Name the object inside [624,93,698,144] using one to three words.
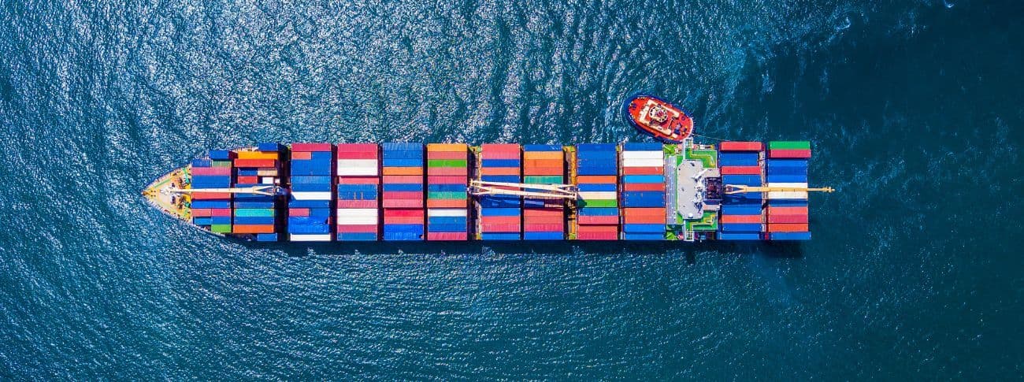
boat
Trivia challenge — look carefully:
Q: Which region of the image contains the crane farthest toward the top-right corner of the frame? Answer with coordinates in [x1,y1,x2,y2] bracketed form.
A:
[722,182,833,195]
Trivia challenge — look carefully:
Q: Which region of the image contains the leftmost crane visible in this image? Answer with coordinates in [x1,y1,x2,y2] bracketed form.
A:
[163,184,292,198]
